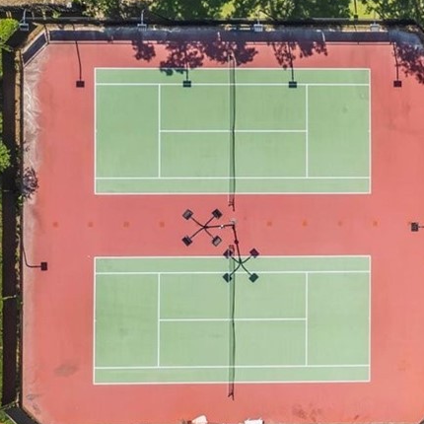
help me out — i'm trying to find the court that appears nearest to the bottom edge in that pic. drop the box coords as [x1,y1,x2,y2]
[93,256,370,385]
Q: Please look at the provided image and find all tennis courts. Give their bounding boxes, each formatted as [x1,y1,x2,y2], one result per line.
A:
[93,256,370,385]
[93,68,370,195]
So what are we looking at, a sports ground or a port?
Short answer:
sports ground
